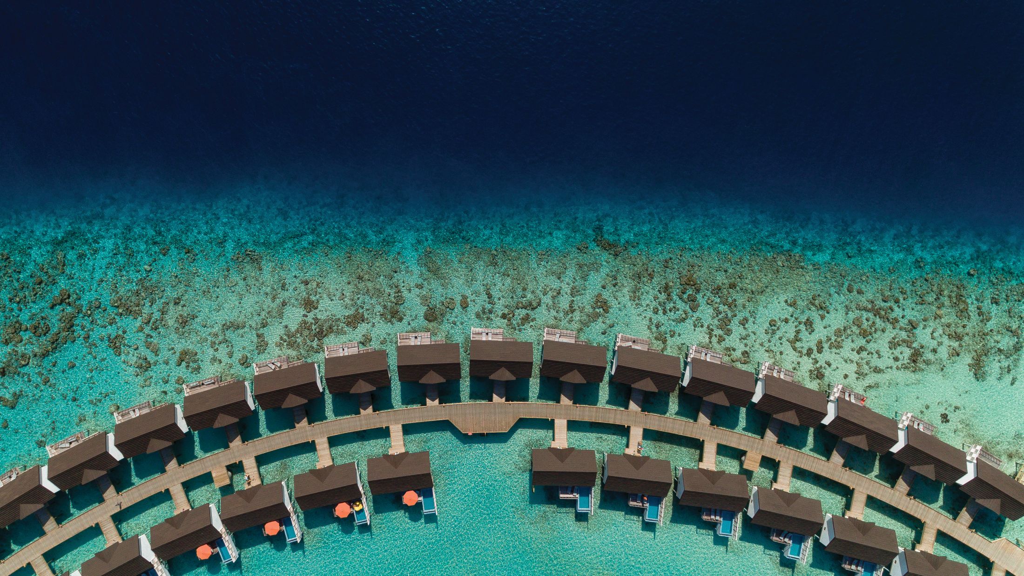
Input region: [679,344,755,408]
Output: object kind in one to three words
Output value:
house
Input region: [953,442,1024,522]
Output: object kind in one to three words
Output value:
house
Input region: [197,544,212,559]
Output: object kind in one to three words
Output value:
umbrella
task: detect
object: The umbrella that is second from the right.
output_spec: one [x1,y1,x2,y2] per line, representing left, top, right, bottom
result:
[335,502,351,517]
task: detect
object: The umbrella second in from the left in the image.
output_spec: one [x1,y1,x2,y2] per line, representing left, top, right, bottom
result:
[265,521,280,536]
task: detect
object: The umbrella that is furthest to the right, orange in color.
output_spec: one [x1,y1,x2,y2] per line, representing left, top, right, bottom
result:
[403,491,418,506]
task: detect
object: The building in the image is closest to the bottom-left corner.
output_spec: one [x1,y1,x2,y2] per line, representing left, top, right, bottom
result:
[0,462,64,529]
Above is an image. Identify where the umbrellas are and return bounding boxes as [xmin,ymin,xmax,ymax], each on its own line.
[265,521,280,536]
[197,544,212,559]
[403,491,418,506]
[335,502,351,517]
